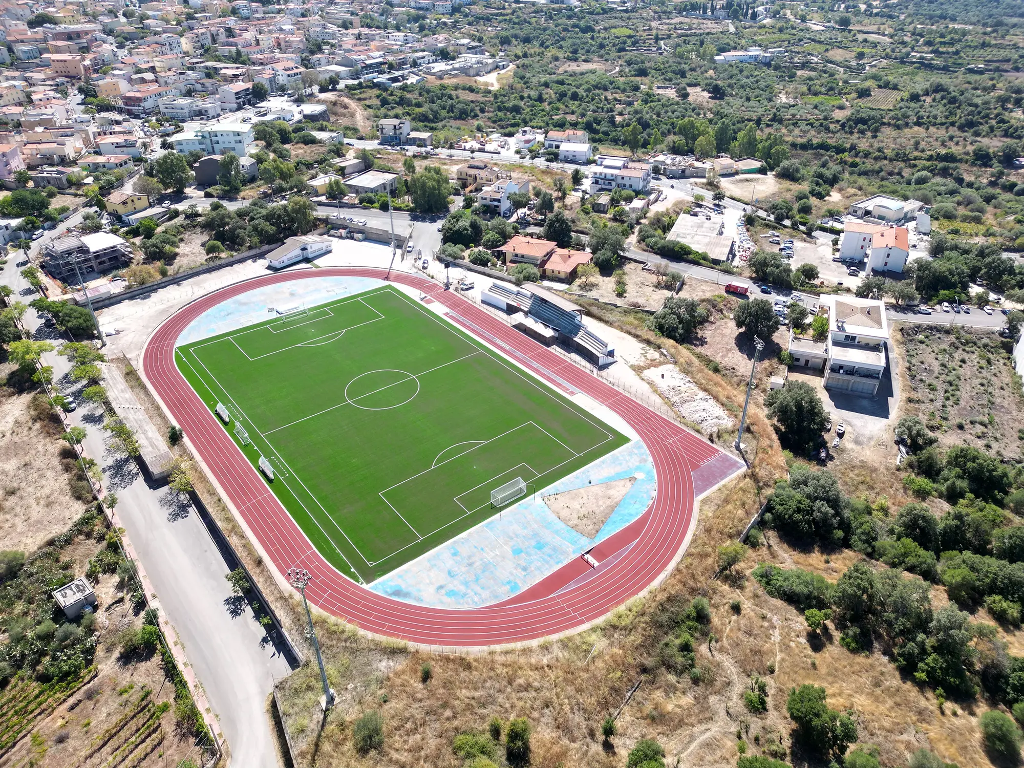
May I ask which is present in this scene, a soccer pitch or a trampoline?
soccer pitch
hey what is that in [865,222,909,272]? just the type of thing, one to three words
building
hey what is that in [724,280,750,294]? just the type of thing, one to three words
vehicle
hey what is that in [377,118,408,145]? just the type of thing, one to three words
house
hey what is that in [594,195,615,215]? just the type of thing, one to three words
shed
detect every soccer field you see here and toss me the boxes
[176,283,634,585]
